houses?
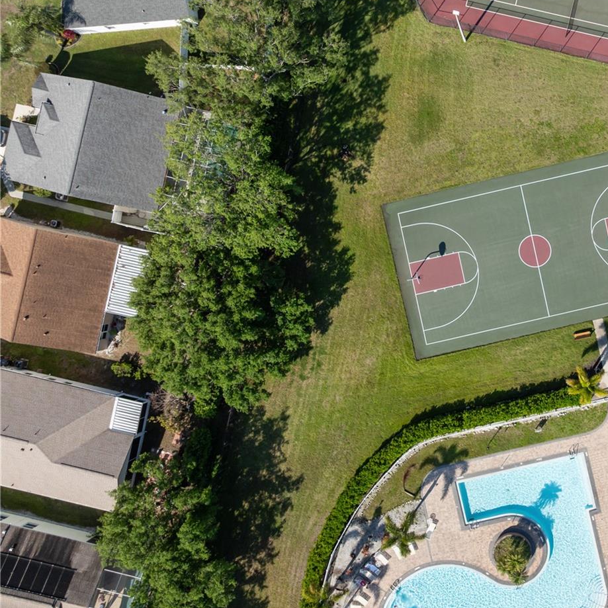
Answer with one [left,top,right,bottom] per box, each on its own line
[0,222,147,354]
[0,514,131,608]
[3,73,243,210]
[62,0,197,32]
[0,367,157,511]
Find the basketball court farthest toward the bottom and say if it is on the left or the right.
right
